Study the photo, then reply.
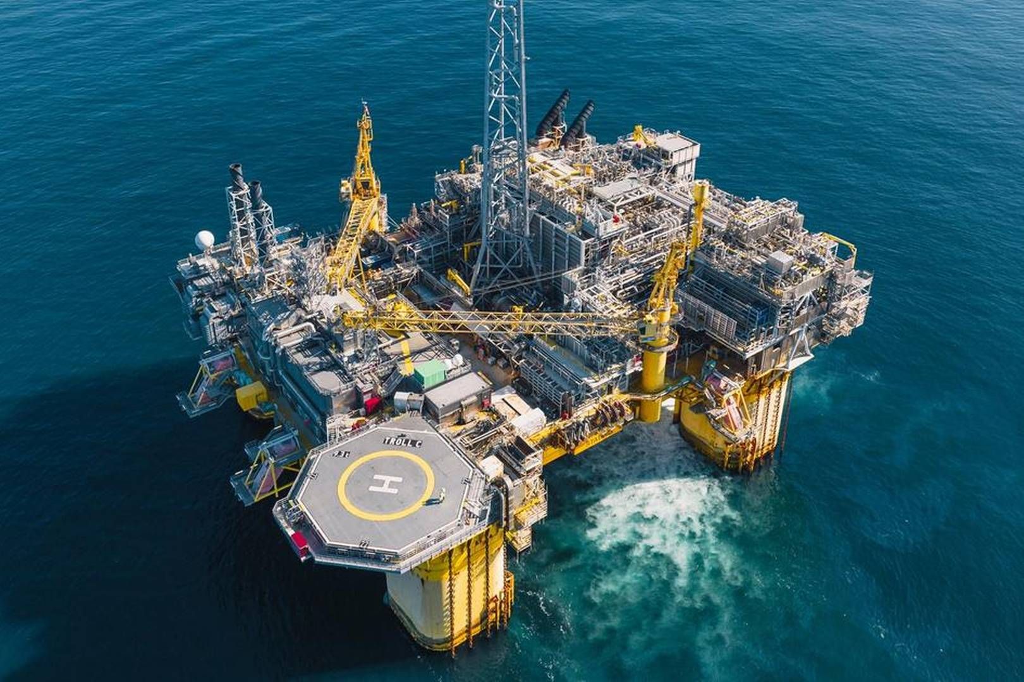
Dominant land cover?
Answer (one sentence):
What you mostly see from above here is water.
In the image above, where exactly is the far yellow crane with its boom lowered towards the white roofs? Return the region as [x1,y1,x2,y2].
[327,103,396,305]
